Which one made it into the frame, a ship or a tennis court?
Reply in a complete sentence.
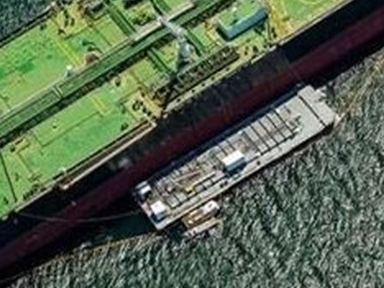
It is a ship that can be seen here.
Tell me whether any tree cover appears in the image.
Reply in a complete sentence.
No, no tree cover is visible.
